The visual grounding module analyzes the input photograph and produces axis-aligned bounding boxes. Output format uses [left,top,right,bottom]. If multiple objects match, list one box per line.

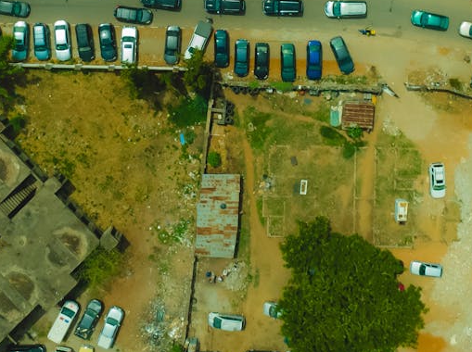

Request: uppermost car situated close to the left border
[0,0,31,17]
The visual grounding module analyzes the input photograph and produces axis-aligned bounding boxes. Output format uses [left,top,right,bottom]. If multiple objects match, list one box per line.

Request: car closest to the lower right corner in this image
[411,259,443,278]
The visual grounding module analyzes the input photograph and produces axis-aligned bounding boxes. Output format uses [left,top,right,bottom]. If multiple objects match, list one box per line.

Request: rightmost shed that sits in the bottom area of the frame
[195,171,240,258]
